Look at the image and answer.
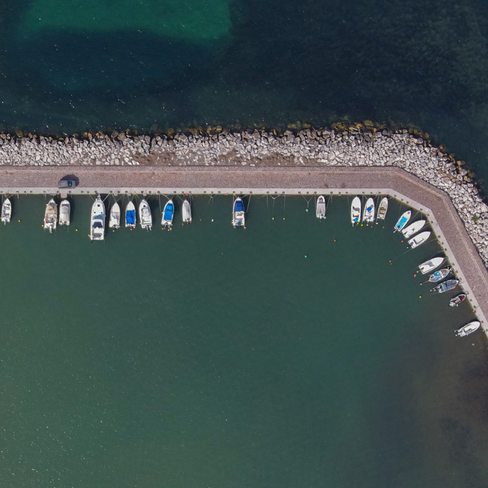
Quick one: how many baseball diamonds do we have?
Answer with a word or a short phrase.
zero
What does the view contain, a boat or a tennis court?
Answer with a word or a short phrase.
boat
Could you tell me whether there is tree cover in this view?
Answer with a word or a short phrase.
No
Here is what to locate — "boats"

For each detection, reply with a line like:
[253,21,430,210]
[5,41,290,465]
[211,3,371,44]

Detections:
[377,194,388,222]
[162,194,179,227]
[57,194,70,226]
[230,193,245,229]
[2,194,13,224]
[364,193,375,224]
[43,193,59,230]
[401,220,430,238]
[447,295,465,307]
[408,253,449,284]
[91,193,105,247]
[316,194,326,219]
[110,195,122,229]
[431,279,457,297]
[394,211,413,232]
[429,269,455,282]
[139,198,152,230]
[125,201,136,229]
[408,229,439,249]
[181,196,191,224]
[456,322,479,338]
[351,195,361,226]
